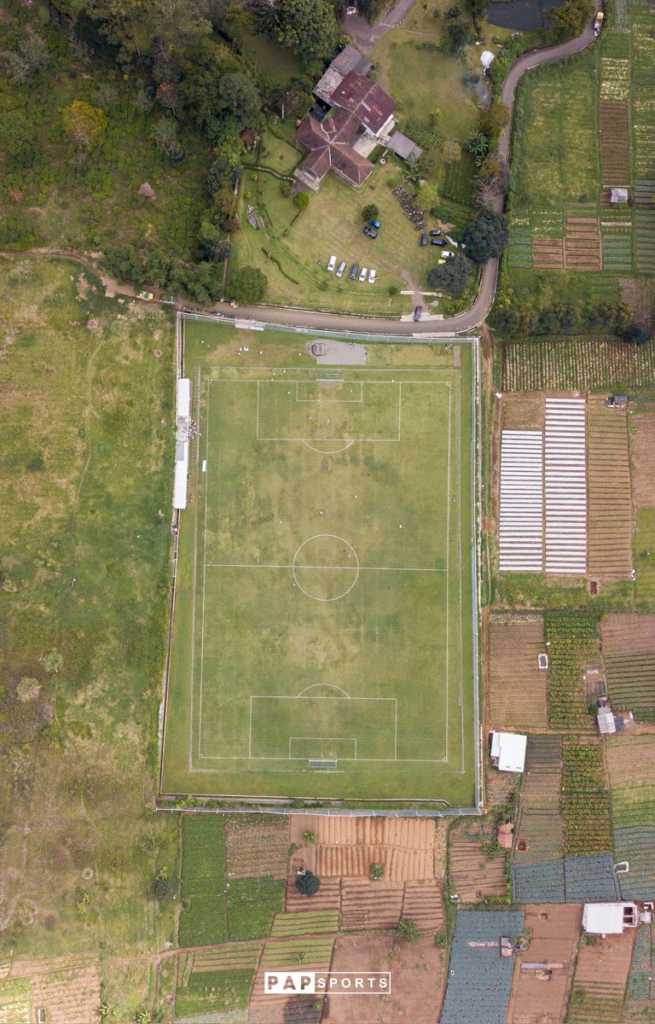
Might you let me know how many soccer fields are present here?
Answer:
1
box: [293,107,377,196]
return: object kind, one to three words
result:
house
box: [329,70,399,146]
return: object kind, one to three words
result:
building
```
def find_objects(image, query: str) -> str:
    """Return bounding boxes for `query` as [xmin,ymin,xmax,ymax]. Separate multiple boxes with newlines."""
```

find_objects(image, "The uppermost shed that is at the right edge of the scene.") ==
[608,188,628,206]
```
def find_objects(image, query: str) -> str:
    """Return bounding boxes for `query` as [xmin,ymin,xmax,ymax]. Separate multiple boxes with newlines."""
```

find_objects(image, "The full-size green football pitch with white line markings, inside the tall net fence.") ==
[164,319,475,806]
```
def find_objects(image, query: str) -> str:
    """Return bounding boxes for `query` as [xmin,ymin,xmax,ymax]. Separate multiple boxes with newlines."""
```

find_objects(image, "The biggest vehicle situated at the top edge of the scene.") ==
[593,11,605,30]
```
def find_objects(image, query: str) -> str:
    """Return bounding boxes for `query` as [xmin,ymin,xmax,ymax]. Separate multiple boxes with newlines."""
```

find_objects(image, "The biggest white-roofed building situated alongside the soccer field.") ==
[489,733,528,773]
